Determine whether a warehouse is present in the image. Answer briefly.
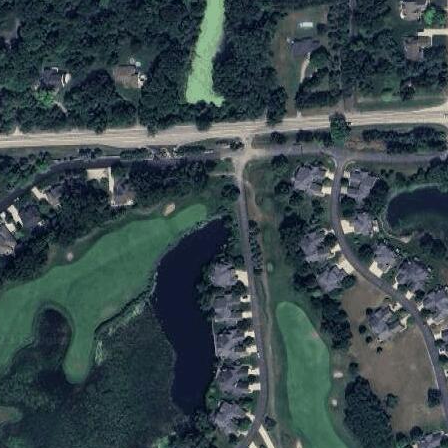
No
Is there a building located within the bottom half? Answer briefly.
Yes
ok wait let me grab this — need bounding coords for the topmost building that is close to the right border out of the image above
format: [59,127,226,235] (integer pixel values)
[403,0,427,22]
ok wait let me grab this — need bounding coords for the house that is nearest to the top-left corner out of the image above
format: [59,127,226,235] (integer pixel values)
[39,68,64,89]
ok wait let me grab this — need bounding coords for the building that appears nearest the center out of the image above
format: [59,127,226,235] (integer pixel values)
[210,261,237,287]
